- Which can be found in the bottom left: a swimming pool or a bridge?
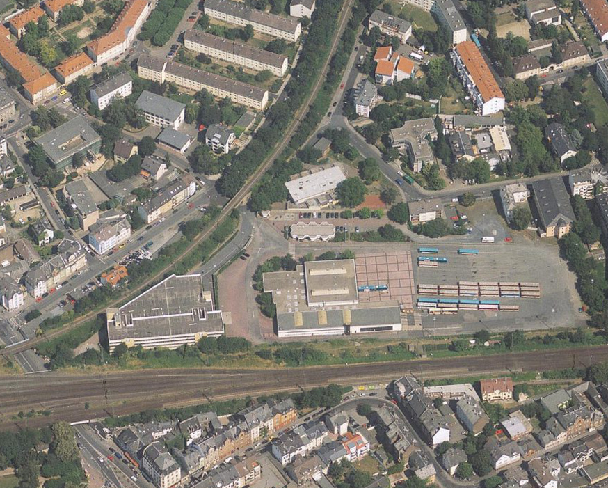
bridge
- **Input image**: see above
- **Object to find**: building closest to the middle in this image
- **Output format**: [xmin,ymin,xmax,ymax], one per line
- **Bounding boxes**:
[290,223,335,241]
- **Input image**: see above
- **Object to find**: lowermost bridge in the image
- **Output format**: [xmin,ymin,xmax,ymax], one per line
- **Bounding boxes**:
[21,371,101,424]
